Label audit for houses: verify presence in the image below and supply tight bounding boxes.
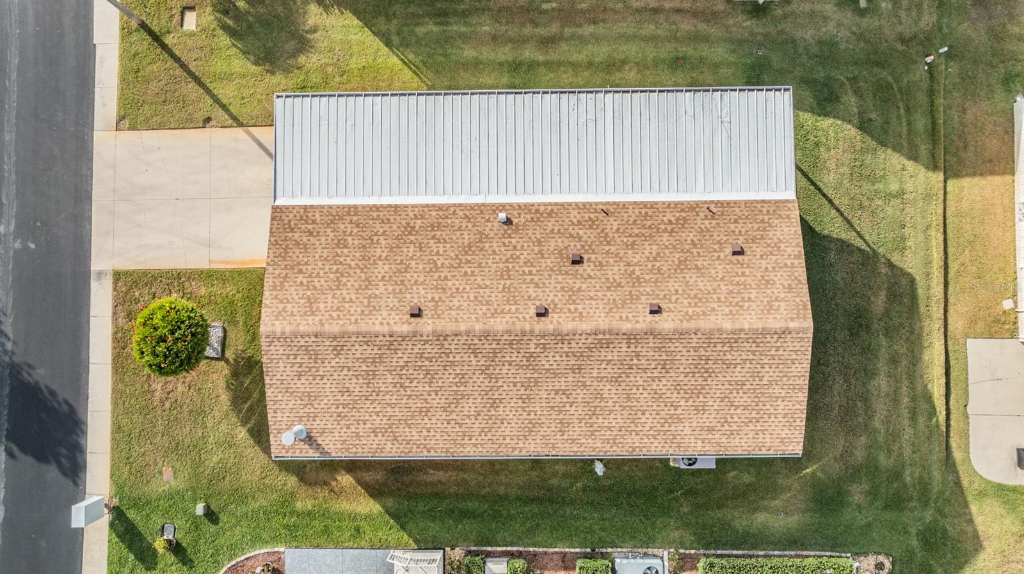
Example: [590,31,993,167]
[1007,100,1024,345]
[261,87,813,461]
